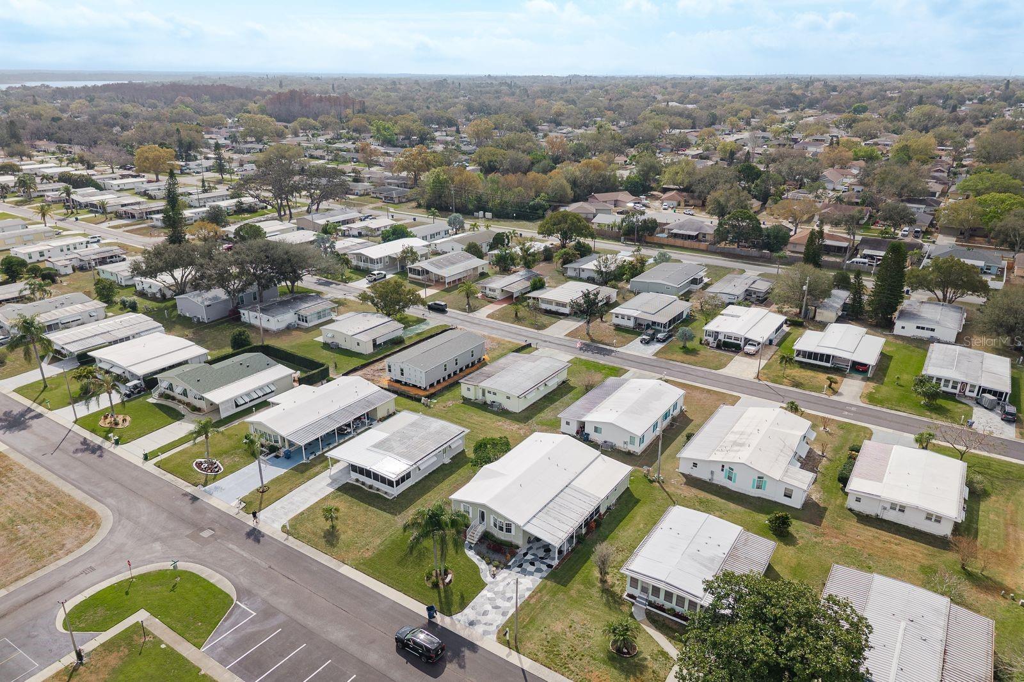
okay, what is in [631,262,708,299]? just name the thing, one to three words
house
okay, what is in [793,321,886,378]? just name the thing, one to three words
house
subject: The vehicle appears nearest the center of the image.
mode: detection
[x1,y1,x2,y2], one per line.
[425,301,451,313]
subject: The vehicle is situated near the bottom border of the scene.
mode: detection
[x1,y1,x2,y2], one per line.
[389,621,452,666]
